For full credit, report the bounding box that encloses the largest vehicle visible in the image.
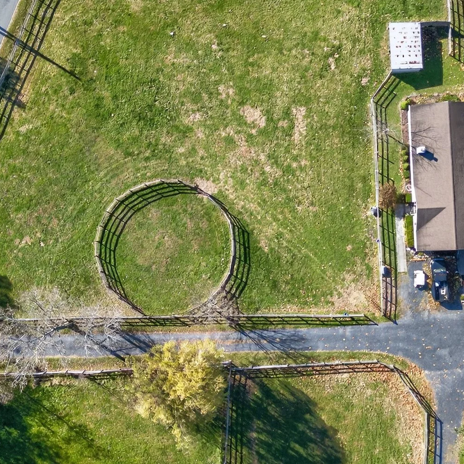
[433,260,451,303]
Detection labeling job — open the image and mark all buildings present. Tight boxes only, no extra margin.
[388,22,423,72]
[398,101,464,251]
